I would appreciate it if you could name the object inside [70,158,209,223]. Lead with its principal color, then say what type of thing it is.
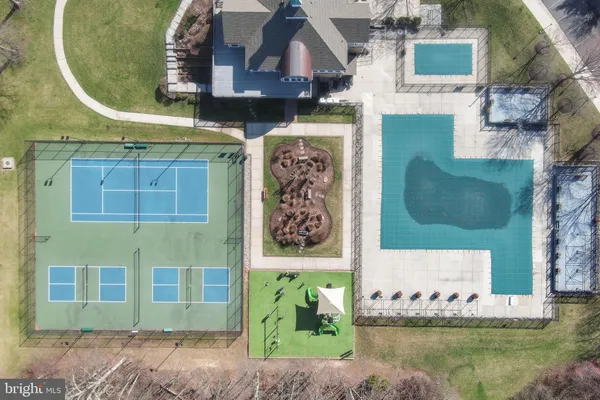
blue tennis court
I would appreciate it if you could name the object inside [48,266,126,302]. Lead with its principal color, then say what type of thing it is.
blue sports court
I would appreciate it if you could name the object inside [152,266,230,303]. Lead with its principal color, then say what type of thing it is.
blue sports court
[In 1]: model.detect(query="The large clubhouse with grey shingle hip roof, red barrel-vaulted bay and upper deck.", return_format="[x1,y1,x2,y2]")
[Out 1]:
[213,0,370,100]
